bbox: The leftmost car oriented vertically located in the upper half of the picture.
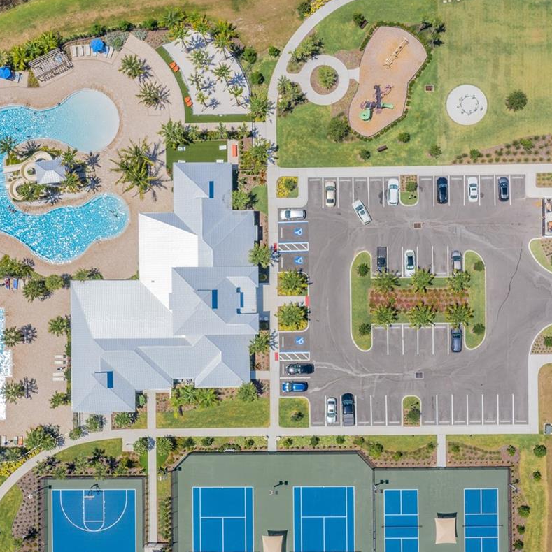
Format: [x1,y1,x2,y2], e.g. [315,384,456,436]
[325,180,337,207]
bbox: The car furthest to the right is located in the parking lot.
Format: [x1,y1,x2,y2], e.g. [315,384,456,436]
[497,176,510,202]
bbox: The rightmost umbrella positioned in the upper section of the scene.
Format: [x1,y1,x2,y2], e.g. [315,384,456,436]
[90,37,104,51]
